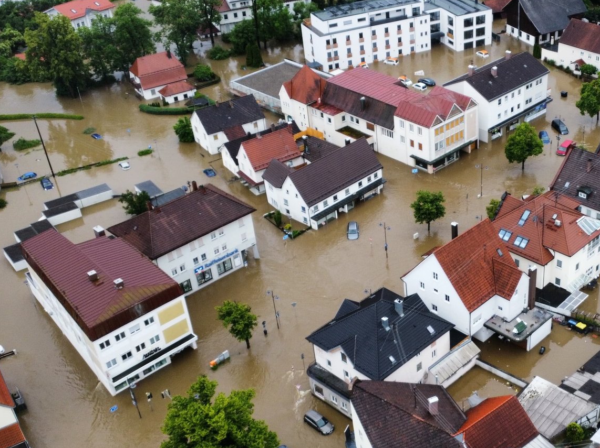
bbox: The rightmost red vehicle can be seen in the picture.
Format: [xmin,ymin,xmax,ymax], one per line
[557,141,574,155]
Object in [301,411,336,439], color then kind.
gray car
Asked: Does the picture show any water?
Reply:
Yes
